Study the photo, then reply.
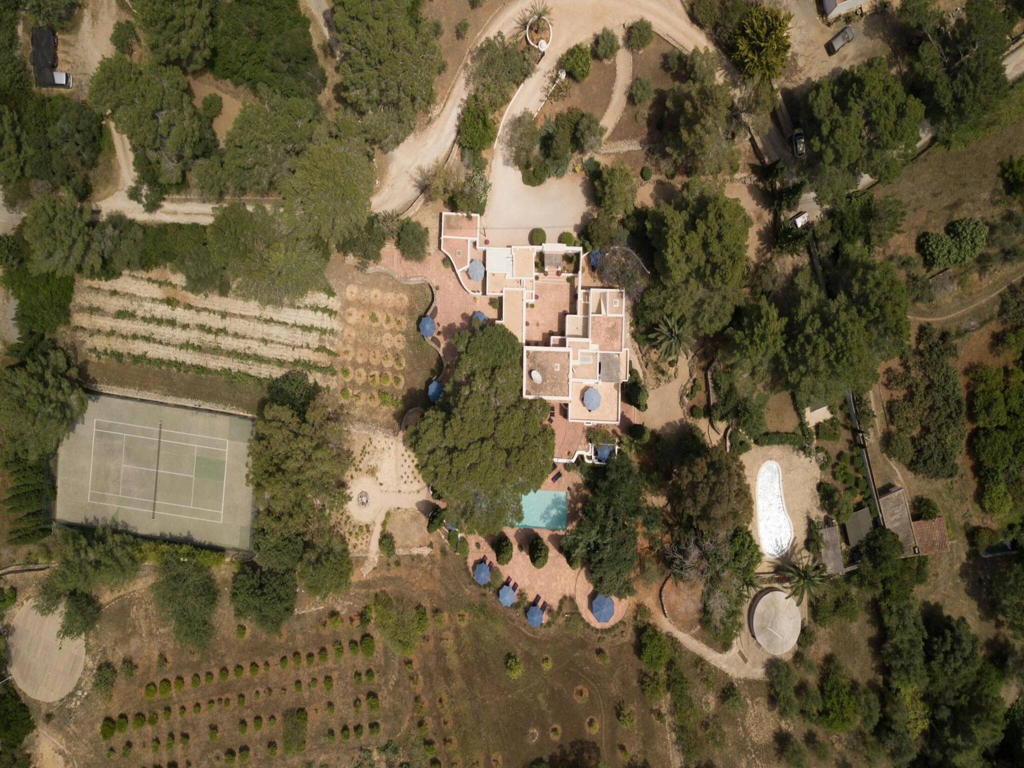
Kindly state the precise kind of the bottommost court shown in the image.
tennis court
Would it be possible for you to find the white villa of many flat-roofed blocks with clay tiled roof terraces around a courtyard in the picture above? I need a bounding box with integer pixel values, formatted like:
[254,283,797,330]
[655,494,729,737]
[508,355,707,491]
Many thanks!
[441,212,636,426]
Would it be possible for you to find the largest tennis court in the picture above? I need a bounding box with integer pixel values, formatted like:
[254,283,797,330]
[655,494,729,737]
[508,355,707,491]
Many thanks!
[54,393,255,550]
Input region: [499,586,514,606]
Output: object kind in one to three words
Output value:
umbrella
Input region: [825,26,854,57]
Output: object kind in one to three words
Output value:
truck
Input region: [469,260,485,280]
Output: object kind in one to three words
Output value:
umbrella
